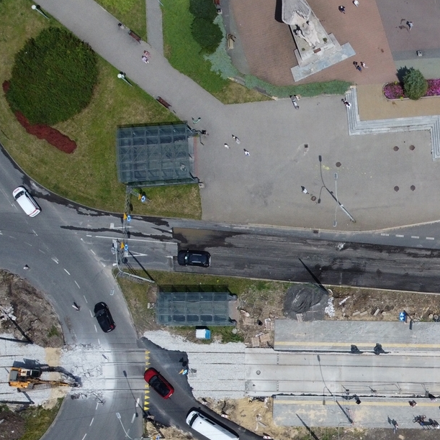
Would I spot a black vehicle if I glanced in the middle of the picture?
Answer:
Yes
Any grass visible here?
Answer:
Yes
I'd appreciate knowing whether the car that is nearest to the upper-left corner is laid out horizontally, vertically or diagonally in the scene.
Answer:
diagonally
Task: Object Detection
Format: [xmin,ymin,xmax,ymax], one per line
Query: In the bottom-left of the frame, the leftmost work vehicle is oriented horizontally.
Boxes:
[8,367,79,389]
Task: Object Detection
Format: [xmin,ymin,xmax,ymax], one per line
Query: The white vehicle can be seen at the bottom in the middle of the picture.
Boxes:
[190,411,239,440]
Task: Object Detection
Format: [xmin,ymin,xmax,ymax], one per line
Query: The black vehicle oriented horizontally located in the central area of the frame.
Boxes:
[177,249,214,267]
